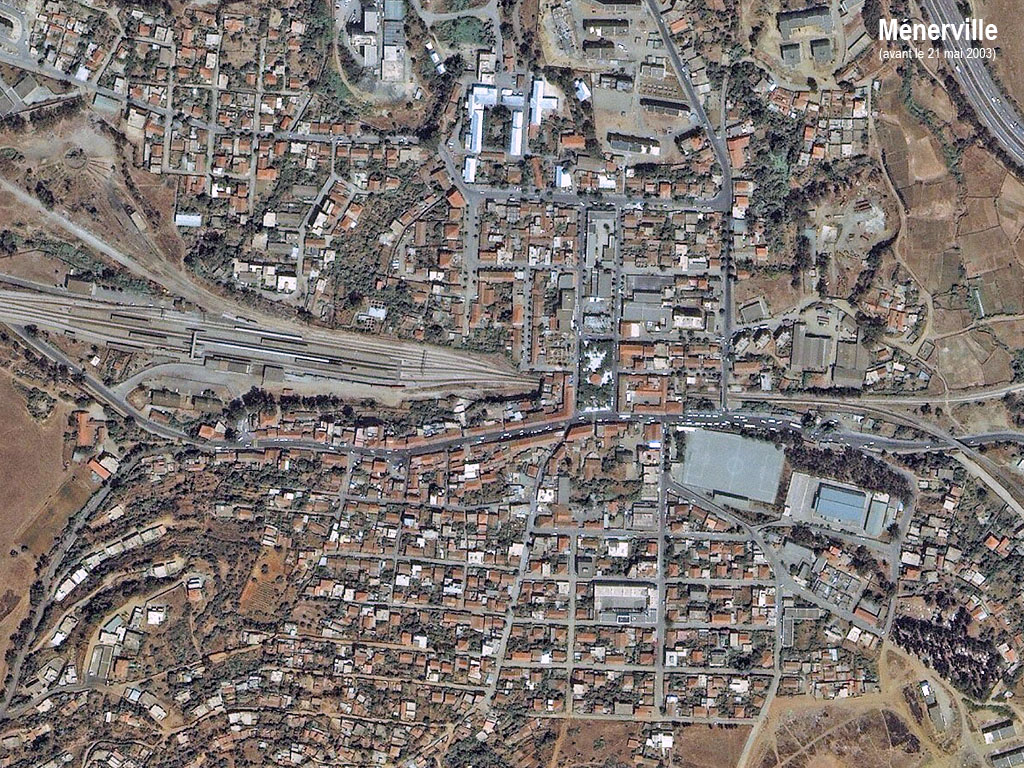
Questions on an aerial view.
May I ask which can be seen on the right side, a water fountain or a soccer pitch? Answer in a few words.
soccer pitch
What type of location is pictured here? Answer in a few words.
residential area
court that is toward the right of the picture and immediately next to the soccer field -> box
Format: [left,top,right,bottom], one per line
[786,473,814,521]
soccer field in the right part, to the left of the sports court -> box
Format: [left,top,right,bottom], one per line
[682,429,784,504]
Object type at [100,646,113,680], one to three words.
shed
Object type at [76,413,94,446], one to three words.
house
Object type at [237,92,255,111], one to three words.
house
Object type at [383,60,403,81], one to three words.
building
